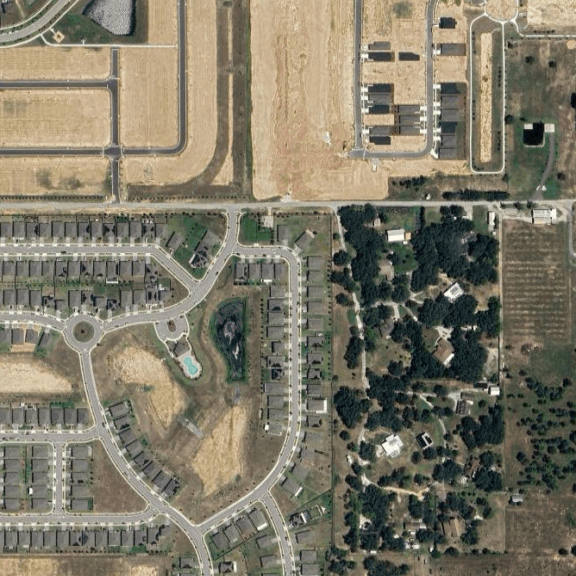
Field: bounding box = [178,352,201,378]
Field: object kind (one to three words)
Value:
swimming pool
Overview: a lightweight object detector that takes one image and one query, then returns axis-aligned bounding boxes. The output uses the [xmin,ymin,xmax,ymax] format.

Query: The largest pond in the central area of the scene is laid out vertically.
[216,300,244,379]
